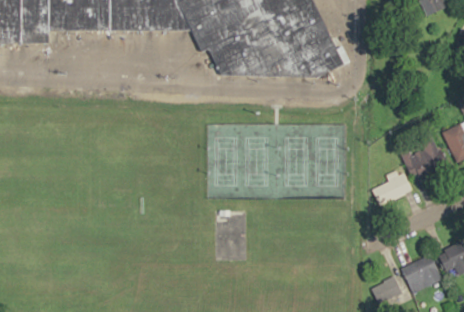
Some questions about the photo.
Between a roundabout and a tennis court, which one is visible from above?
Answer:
tennis court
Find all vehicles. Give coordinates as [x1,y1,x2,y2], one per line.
[413,194,420,204]
[399,255,406,266]
[400,242,407,254]
[396,246,402,256]
[404,252,410,262]
[408,230,418,238]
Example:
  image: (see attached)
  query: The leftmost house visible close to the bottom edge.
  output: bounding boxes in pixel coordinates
[372,280,401,302]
